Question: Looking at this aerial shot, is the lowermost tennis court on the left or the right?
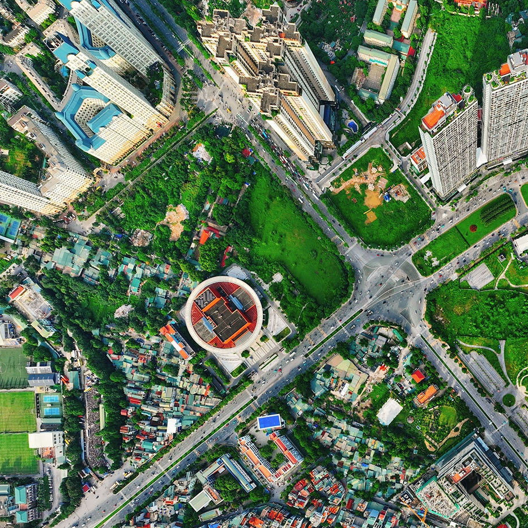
left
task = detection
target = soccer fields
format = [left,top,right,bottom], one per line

[0,348,30,388]
[0,391,36,432]
[0,434,38,475]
